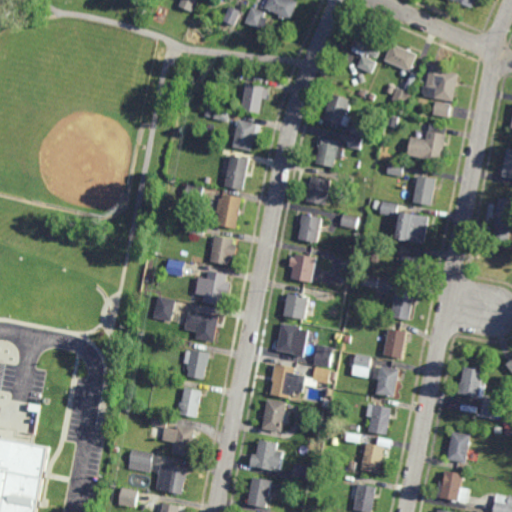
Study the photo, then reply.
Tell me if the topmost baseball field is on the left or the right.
left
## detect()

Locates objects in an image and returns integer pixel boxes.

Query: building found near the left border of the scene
[0,440,50,512]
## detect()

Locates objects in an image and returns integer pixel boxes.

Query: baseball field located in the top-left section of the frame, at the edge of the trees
[0,22,153,213]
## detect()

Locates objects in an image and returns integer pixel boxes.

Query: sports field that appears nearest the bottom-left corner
[0,247,102,329]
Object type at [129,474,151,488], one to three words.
swimming pool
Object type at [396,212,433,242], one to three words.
house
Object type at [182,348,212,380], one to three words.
house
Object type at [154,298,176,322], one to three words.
building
